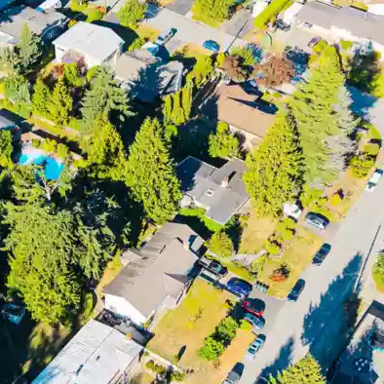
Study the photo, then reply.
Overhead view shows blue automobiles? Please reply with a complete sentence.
Yes, the frame does contain a blue automobile.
